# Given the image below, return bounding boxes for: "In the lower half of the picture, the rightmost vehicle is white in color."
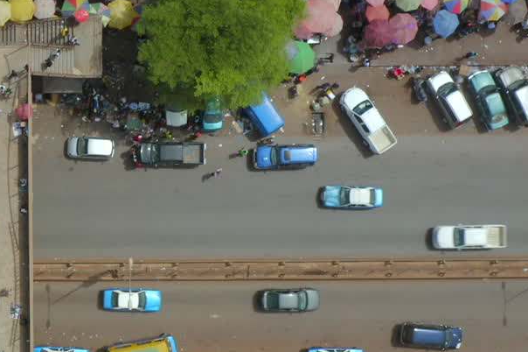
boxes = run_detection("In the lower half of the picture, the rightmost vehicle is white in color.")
[430,222,506,251]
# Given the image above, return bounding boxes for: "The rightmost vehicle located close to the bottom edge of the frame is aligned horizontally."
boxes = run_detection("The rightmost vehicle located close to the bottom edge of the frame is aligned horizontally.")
[396,321,461,352]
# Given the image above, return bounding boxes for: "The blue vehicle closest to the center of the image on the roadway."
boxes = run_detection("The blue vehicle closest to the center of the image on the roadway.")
[250,141,317,172]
